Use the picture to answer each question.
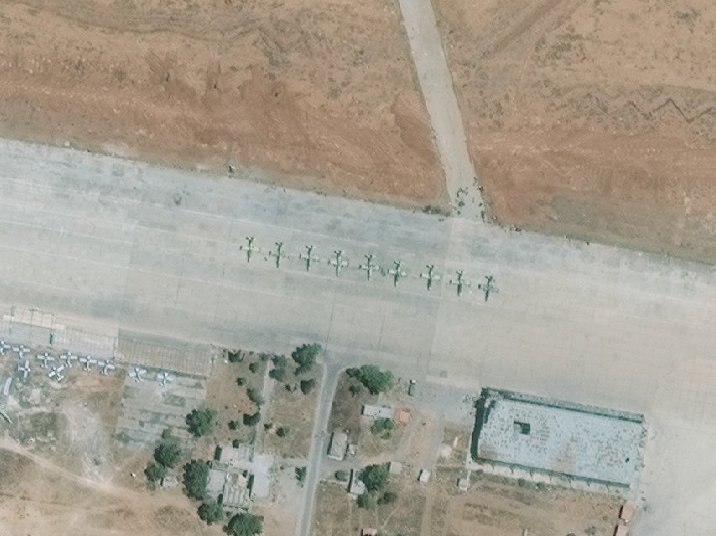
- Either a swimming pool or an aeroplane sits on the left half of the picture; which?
aeroplane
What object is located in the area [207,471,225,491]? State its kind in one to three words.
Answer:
house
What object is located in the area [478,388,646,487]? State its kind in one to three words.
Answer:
hangar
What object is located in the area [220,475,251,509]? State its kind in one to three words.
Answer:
building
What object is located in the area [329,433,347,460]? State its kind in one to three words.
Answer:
house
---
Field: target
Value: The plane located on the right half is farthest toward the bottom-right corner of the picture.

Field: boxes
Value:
[478,275,498,299]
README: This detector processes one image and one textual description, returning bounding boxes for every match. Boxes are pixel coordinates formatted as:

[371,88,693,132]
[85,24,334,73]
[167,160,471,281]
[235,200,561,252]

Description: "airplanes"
[420,264,441,288]
[37,351,54,366]
[388,259,408,284]
[60,350,78,365]
[13,342,29,358]
[240,236,259,260]
[0,339,10,354]
[17,361,33,378]
[98,358,115,373]
[268,241,288,265]
[48,366,64,381]
[80,354,96,369]
[156,370,173,385]
[129,367,145,382]
[359,254,379,277]
[299,245,319,269]
[328,249,348,273]
[450,270,470,294]
[478,275,498,299]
